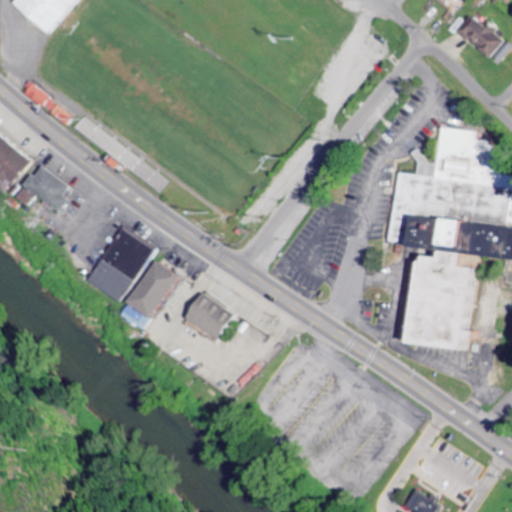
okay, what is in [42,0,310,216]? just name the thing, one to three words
sports field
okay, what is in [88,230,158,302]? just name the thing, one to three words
building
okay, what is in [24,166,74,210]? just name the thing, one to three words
building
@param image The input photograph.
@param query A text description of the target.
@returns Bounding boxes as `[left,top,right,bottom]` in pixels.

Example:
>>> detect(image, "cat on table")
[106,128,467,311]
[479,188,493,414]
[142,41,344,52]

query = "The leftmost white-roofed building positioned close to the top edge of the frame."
[11,0,84,36]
